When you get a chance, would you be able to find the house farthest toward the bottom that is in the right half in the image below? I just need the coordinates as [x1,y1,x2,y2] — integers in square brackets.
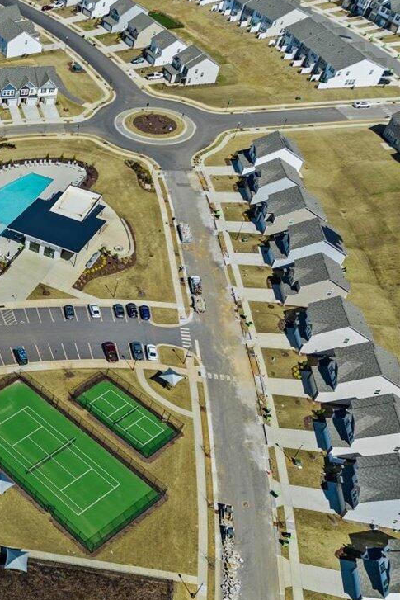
[344,530,400,600]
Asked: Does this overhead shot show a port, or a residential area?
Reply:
residential area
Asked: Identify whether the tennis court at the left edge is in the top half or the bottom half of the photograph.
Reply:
bottom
